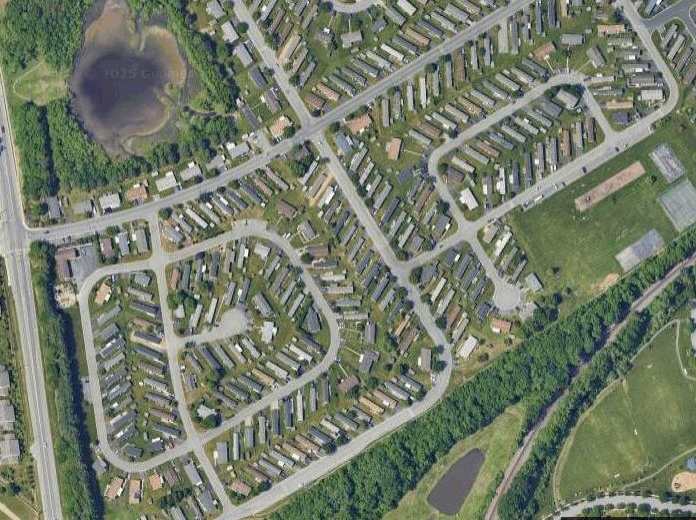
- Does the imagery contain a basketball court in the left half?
No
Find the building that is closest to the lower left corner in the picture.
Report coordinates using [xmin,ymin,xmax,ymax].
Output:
[0,434,20,464]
